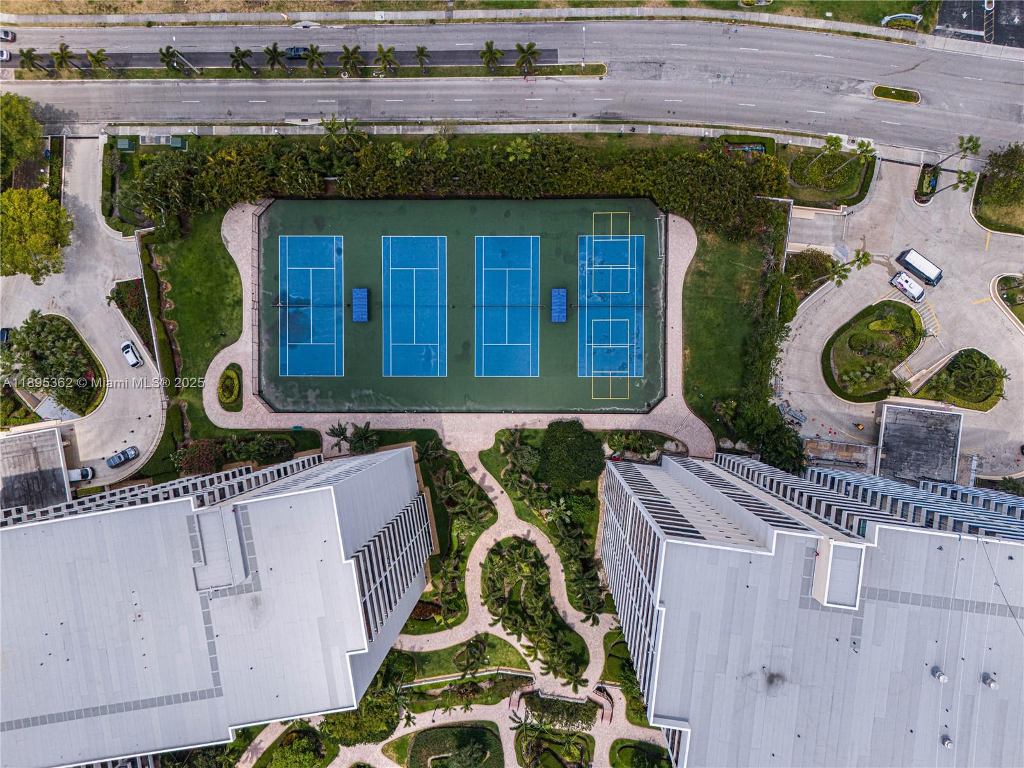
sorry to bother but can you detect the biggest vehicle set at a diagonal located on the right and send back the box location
[891,245,945,287]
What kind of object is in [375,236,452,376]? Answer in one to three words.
tennis court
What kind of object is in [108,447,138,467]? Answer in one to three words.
car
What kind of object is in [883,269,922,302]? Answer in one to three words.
van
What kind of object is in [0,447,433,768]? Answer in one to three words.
building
